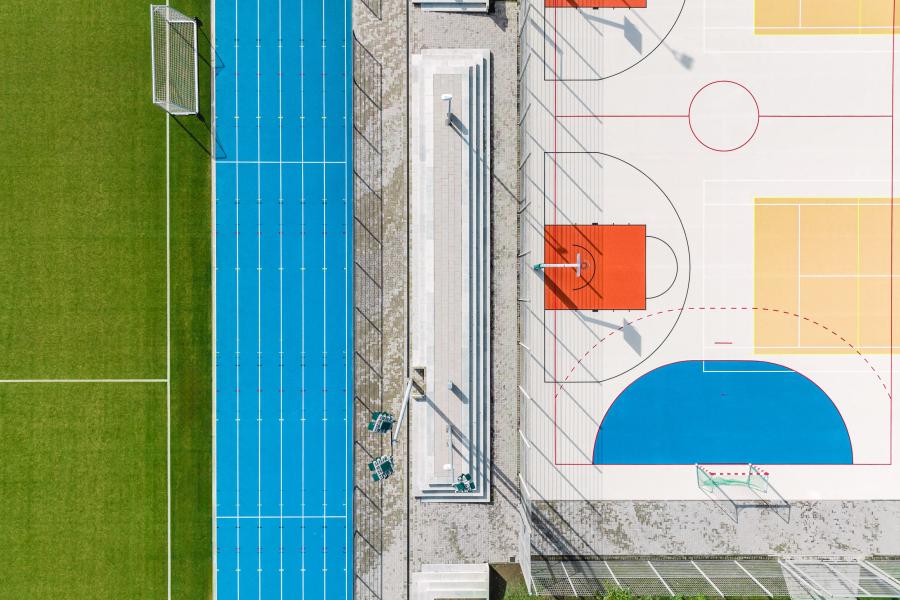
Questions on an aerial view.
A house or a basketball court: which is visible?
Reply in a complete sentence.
Of the two, only a basketball court appears.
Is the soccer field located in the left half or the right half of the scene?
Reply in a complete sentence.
You can find the soccer field on the left side of the picture.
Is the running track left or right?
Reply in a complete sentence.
The running track sits on the left side.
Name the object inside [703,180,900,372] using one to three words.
tennis court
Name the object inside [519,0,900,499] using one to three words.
sports court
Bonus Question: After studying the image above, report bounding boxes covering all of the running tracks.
[211,0,352,600]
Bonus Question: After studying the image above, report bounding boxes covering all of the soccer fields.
[0,0,213,600]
